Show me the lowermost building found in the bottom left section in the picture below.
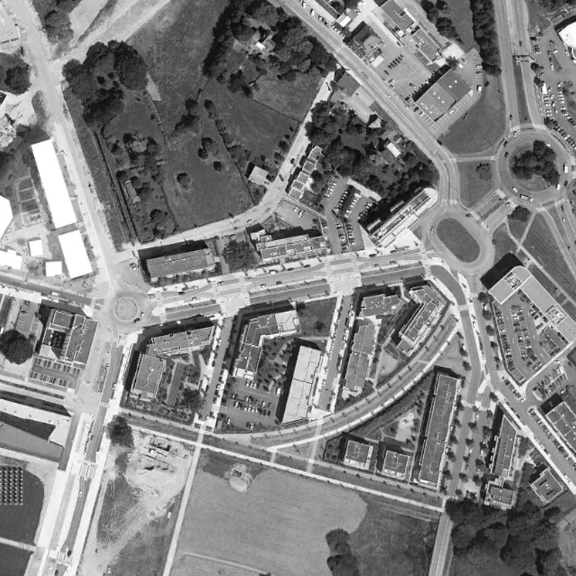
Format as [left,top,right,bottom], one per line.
[0,399,71,446]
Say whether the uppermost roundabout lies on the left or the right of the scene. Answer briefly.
right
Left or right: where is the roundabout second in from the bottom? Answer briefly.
right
